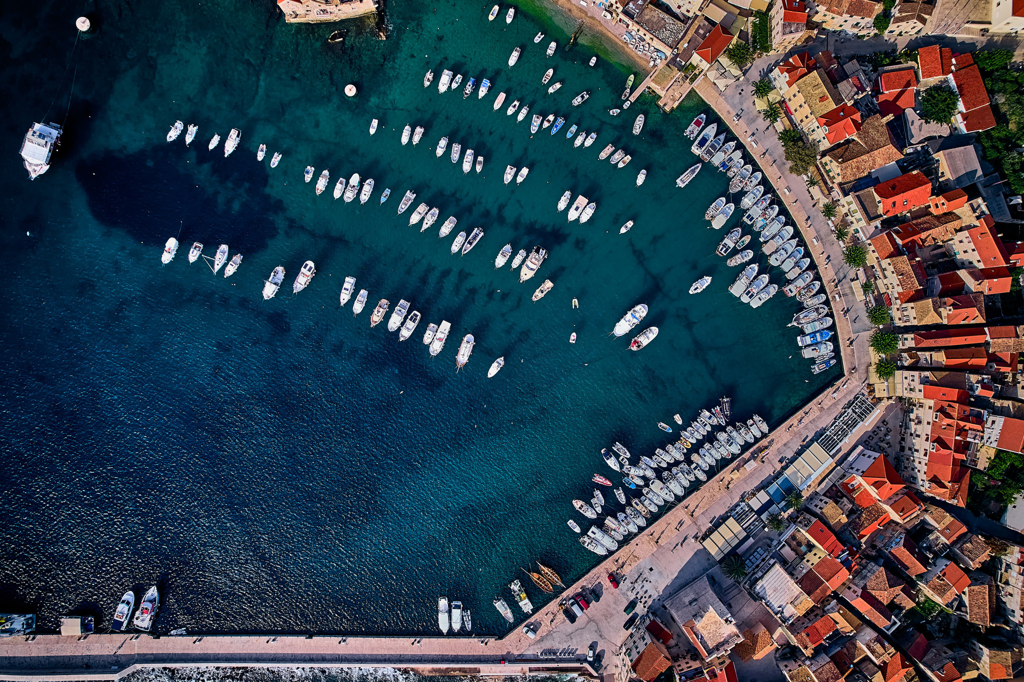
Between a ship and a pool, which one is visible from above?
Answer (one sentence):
Visible in the photo is a ship.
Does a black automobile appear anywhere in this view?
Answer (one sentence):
Yes, the photo shows a black automobile.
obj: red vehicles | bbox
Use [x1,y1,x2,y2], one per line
[575,594,591,612]
[606,573,620,590]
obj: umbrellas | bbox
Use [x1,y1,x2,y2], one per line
[765,88,783,105]
[714,55,731,72]
[752,97,767,114]
[726,64,744,81]
[715,71,734,90]
[705,62,724,82]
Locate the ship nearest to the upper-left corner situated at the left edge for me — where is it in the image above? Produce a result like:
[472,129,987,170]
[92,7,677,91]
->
[17,122,67,178]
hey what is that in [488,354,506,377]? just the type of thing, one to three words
boat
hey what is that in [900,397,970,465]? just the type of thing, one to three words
house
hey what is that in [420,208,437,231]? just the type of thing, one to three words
boat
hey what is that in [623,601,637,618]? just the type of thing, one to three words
vehicle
